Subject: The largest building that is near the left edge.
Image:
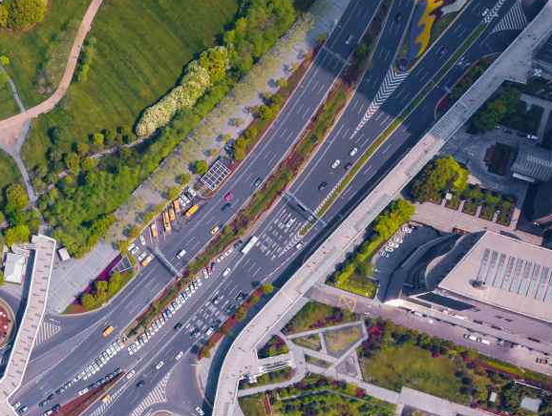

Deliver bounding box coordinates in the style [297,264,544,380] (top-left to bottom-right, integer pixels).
[4,244,31,284]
